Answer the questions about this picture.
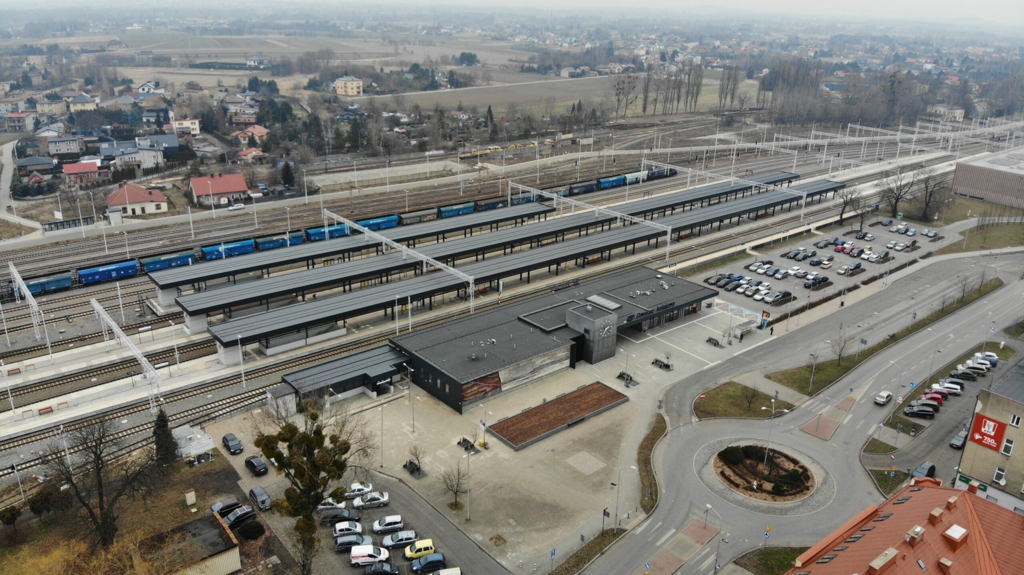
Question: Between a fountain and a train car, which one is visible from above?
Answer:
train car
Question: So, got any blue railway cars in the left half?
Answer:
Yes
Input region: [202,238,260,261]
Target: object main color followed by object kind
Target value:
blue rail car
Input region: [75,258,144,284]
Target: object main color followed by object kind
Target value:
blue rail car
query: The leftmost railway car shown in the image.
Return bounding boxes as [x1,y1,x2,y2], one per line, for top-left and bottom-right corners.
[1,269,77,298]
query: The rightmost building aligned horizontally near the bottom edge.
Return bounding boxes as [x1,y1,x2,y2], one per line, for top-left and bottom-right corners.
[787,473,1024,575]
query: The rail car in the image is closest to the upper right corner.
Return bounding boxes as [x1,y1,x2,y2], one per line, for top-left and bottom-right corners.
[646,168,674,180]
